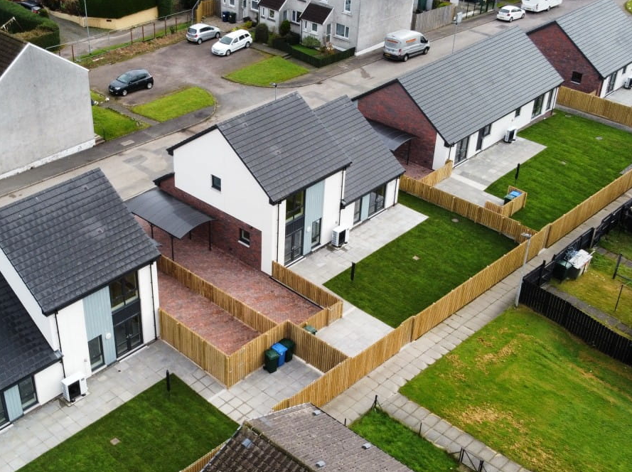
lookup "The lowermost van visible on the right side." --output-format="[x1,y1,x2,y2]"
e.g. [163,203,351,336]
[383,28,431,62]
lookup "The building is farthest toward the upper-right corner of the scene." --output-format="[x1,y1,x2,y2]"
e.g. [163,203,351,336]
[523,0,632,100]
